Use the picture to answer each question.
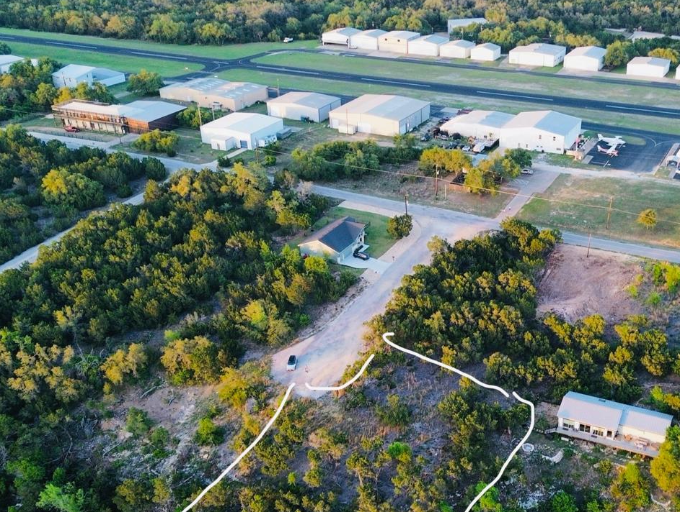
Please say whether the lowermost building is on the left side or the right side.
right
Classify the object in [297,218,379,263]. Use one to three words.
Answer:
house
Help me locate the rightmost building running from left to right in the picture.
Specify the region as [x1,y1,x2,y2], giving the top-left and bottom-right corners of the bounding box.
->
[627,55,672,77]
